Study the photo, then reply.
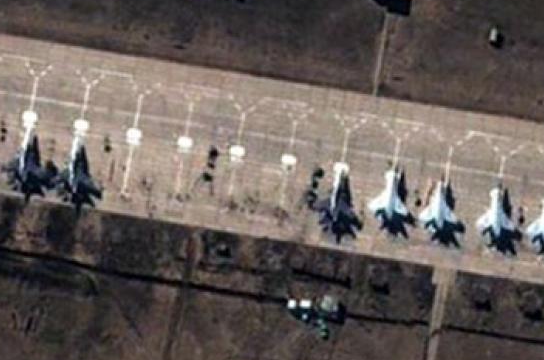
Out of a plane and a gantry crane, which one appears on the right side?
plane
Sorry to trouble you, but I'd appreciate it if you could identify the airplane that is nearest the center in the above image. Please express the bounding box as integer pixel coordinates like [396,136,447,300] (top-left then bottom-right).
[311,165,355,230]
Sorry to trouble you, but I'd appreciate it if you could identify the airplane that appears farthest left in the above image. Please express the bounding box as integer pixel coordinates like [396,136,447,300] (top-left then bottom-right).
[2,122,46,188]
